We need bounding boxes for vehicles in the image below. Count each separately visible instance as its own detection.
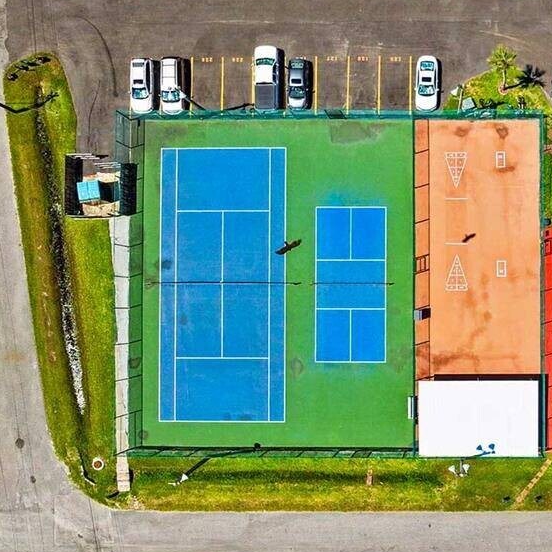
[253,46,283,111]
[414,57,441,111]
[128,57,159,111]
[159,57,189,118]
[286,58,313,111]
